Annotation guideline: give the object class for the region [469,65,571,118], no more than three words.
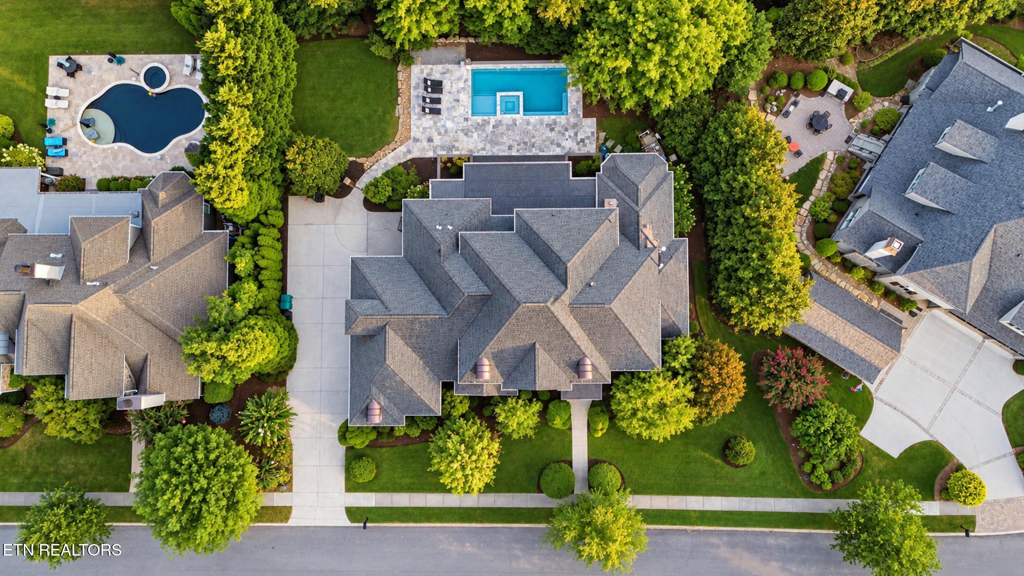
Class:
swimming pool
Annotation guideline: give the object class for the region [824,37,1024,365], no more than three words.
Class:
house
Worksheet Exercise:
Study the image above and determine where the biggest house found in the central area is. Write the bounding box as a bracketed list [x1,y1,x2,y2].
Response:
[344,152,690,427]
